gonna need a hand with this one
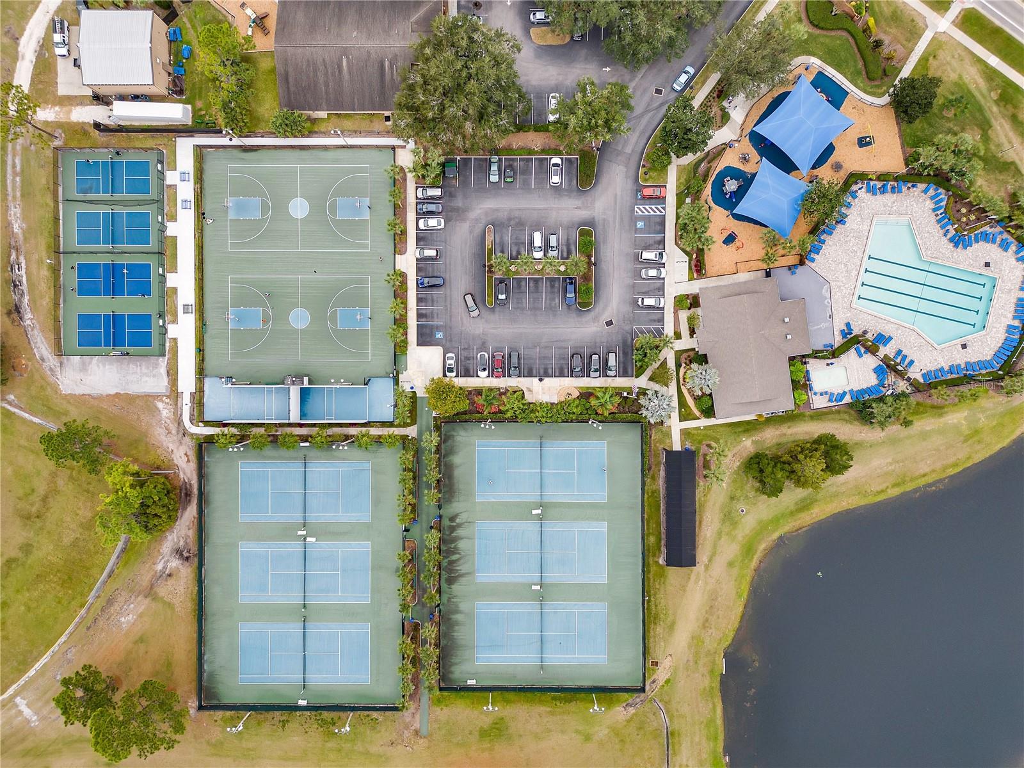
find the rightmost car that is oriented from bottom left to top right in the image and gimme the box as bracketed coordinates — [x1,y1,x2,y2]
[674,63,695,90]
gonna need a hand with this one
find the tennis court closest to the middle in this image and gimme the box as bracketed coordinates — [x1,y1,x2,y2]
[476,440,606,501]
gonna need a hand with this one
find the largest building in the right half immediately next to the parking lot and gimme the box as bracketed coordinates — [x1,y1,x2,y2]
[693,276,812,418]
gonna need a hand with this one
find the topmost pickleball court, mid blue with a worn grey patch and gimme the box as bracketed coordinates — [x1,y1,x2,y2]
[76,160,150,195]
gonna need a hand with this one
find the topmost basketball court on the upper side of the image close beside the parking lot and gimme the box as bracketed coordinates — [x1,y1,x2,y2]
[228,165,369,250]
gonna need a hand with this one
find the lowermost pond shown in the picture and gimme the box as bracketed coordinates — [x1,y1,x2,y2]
[720,436,1024,768]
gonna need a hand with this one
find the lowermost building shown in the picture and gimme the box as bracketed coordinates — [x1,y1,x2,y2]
[666,450,698,567]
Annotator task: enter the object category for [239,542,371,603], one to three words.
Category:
tennis court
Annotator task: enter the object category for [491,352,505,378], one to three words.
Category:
car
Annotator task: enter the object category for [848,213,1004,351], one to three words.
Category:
swimming pool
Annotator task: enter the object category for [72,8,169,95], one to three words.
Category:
building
